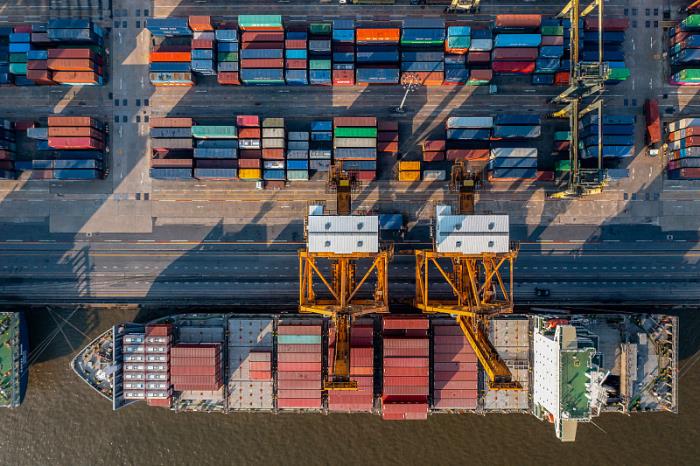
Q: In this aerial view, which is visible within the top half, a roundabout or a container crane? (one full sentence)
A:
It is a container crane that can be seen within the top half.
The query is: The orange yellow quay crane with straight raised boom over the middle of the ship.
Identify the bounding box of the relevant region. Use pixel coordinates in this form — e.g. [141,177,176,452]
[297,160,395,391]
